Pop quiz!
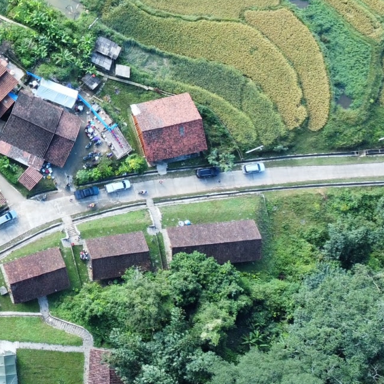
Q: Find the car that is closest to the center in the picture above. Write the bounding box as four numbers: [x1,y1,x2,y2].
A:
[193,165,220,179]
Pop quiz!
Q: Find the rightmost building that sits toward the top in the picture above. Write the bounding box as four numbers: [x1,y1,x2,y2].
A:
[130,92,207,163]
